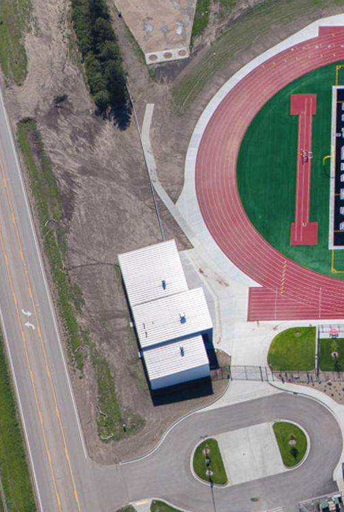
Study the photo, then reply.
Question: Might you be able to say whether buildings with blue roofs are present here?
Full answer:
No, I can't see a single building with a blue roof in this photo.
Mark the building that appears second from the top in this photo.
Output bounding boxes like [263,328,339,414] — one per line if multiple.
[133,288,214,359]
